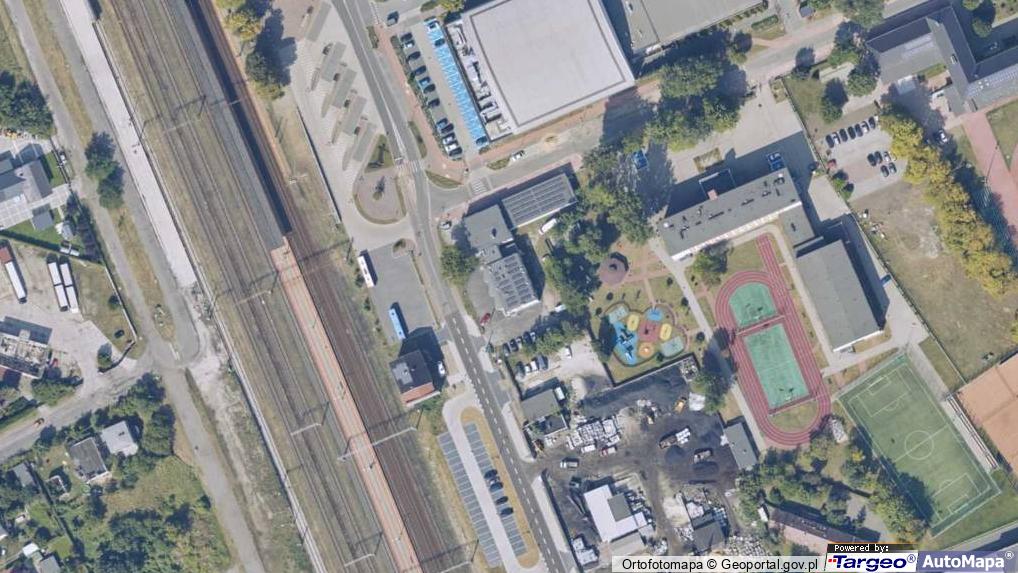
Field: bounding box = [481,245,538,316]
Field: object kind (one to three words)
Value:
building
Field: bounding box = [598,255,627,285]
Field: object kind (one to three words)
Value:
gazebo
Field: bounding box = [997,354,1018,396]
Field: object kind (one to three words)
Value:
tennis court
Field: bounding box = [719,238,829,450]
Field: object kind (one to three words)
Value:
running track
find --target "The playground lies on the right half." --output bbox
[603,301,688,367]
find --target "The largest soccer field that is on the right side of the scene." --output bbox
[838,352,1001,536]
